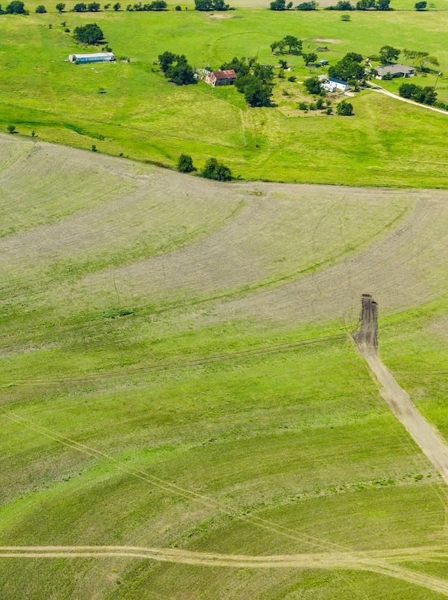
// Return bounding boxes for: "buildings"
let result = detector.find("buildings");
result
[206,68,237,85]
[324,78,351,91]
[73,52,115,63]
[363,63,419,79]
